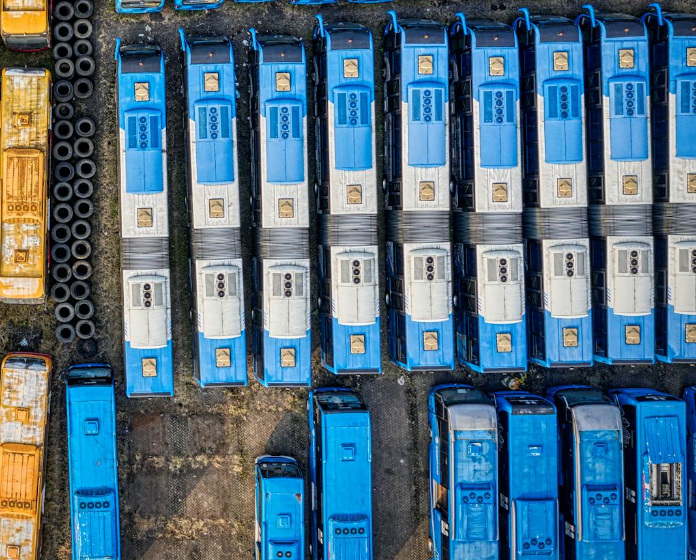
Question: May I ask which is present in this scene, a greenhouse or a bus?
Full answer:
It is a bus that can be seen here.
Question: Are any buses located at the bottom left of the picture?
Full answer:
Yes, there is a bus at the bottom left of the picture.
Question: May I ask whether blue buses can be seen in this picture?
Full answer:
Yes, the image includes a blue bus.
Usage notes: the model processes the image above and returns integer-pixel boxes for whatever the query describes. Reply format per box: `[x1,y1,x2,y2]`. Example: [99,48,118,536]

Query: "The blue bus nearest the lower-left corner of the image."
[62,364,121,560]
